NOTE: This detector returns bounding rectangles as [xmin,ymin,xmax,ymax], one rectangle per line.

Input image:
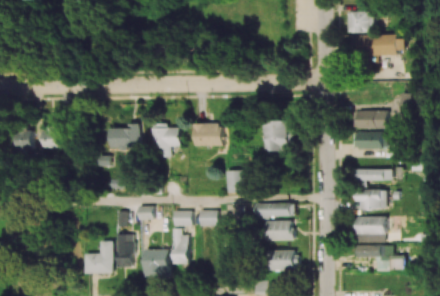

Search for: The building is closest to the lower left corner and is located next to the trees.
[84,242,114,275]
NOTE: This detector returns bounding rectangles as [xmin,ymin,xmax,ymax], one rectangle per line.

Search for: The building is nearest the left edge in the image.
[12,130,36,148]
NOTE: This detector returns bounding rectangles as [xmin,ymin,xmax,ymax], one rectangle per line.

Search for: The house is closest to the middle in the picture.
[192,124,224,148]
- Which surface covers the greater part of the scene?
trees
